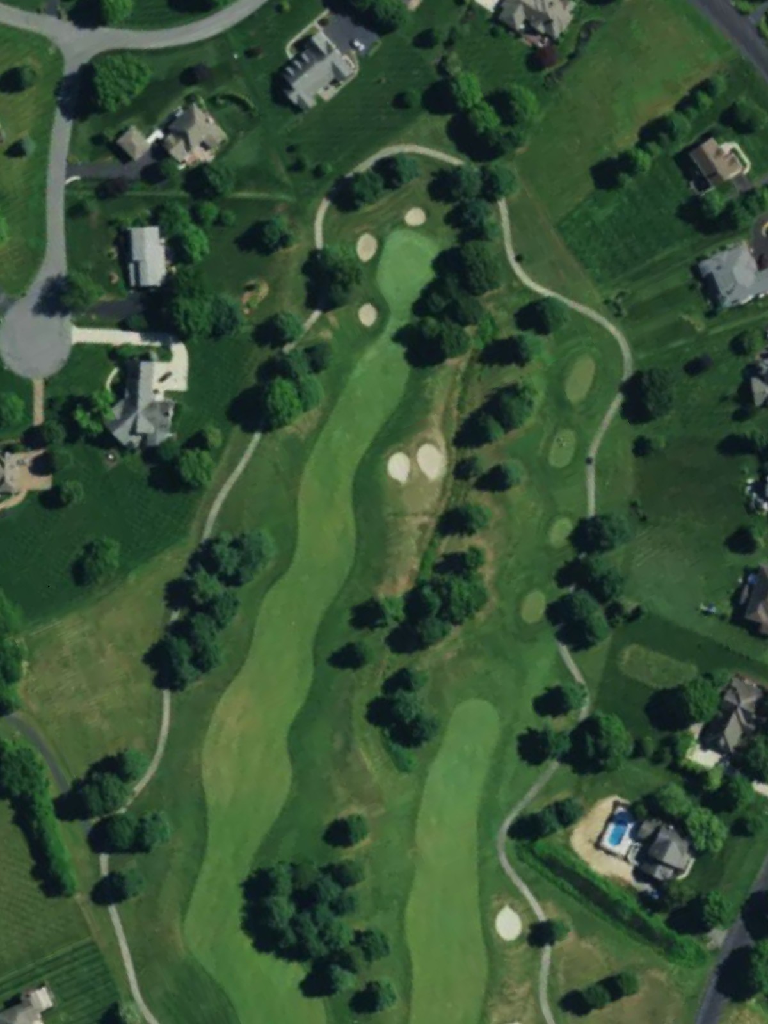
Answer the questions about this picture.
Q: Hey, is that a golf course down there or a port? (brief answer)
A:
golf course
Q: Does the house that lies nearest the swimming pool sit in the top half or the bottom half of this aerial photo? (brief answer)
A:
bottom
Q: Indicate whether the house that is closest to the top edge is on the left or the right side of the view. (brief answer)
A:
right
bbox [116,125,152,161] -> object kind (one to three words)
building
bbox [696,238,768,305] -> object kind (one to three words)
house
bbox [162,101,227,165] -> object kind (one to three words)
house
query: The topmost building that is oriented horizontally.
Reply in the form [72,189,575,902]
[492,0,585,42]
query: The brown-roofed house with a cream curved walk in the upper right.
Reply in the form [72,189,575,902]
[688,135,745,186]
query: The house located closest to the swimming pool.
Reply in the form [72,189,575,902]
[634,819,694,884]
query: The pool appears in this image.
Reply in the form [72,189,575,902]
[599,805,635,857]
